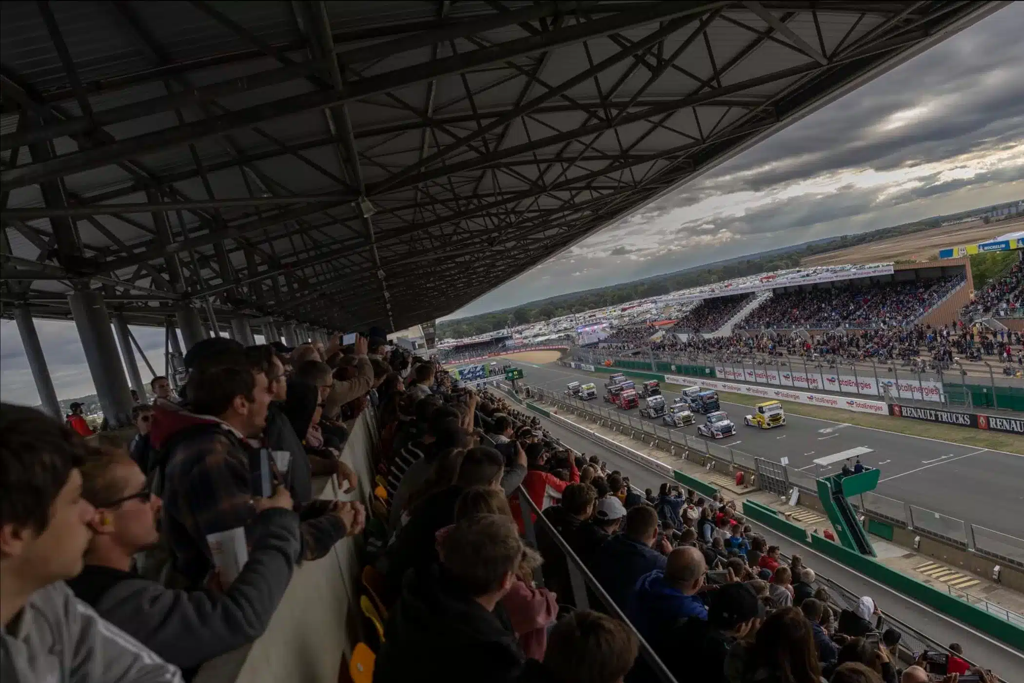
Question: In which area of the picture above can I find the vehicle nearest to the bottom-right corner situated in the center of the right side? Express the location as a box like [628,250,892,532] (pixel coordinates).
[738,398,783,428]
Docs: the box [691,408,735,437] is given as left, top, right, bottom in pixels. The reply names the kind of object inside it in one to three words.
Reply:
truck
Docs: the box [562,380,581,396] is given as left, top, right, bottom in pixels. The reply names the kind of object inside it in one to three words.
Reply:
vehicle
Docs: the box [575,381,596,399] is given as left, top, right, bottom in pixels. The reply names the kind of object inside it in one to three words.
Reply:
vehicle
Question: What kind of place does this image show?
sports ground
